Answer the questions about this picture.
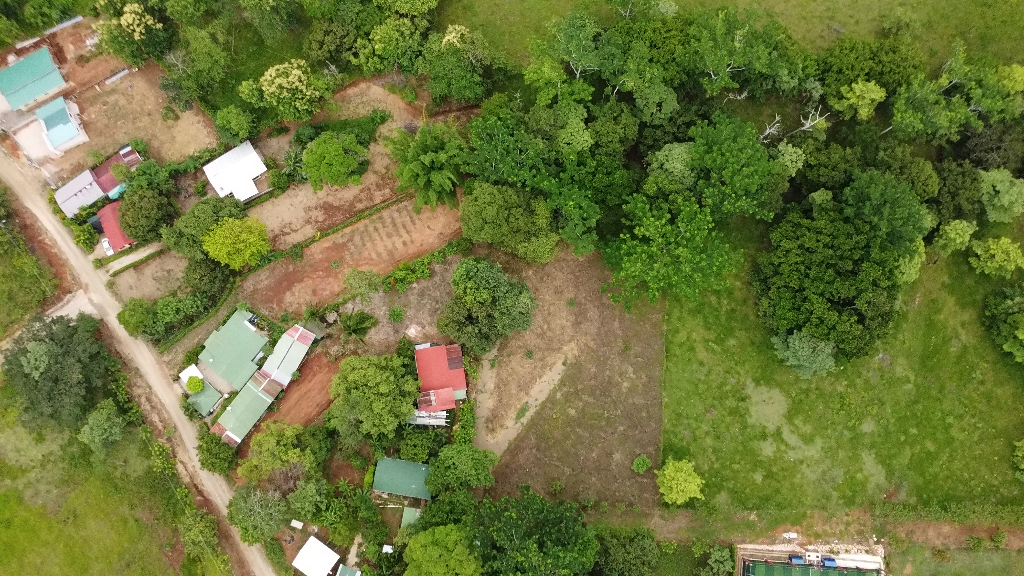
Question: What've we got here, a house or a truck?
house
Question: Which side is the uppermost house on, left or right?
left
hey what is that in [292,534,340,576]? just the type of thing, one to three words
house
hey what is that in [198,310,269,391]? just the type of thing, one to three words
house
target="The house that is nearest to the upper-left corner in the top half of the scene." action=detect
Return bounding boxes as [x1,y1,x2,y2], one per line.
[0,47,74,112]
